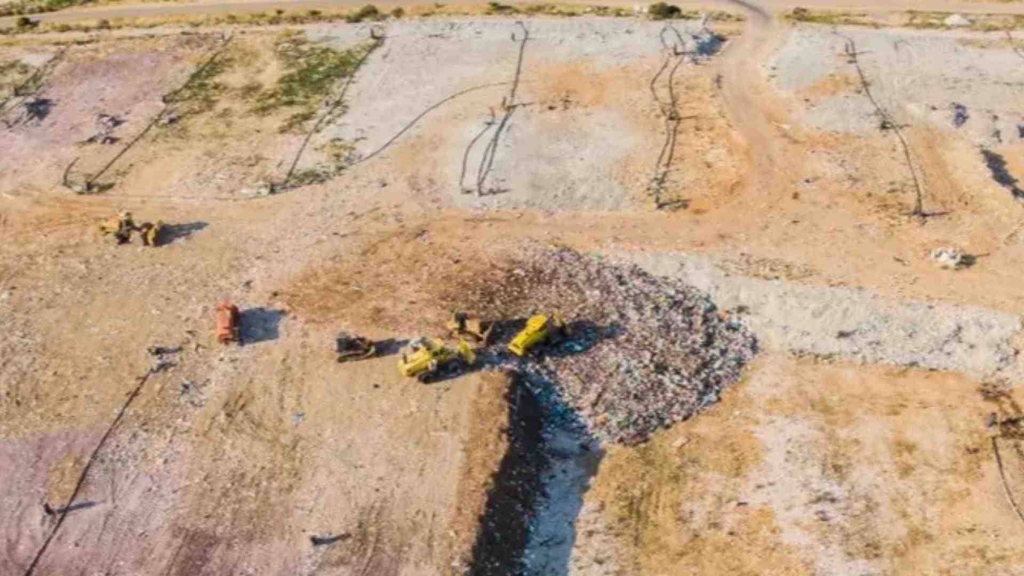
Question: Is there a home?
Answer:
No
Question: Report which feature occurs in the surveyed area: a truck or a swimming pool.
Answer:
truck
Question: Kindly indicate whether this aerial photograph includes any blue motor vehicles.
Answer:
No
